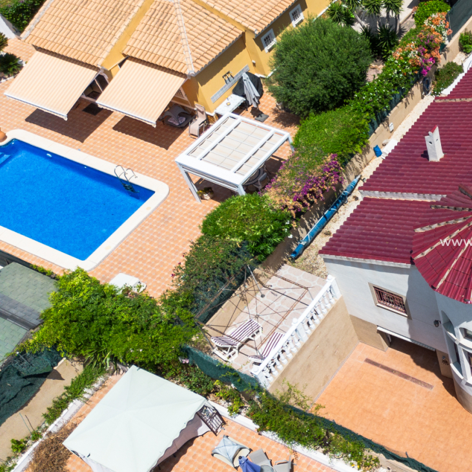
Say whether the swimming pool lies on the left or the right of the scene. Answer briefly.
left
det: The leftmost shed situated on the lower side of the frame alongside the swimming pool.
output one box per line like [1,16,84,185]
[0,263,59,344]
